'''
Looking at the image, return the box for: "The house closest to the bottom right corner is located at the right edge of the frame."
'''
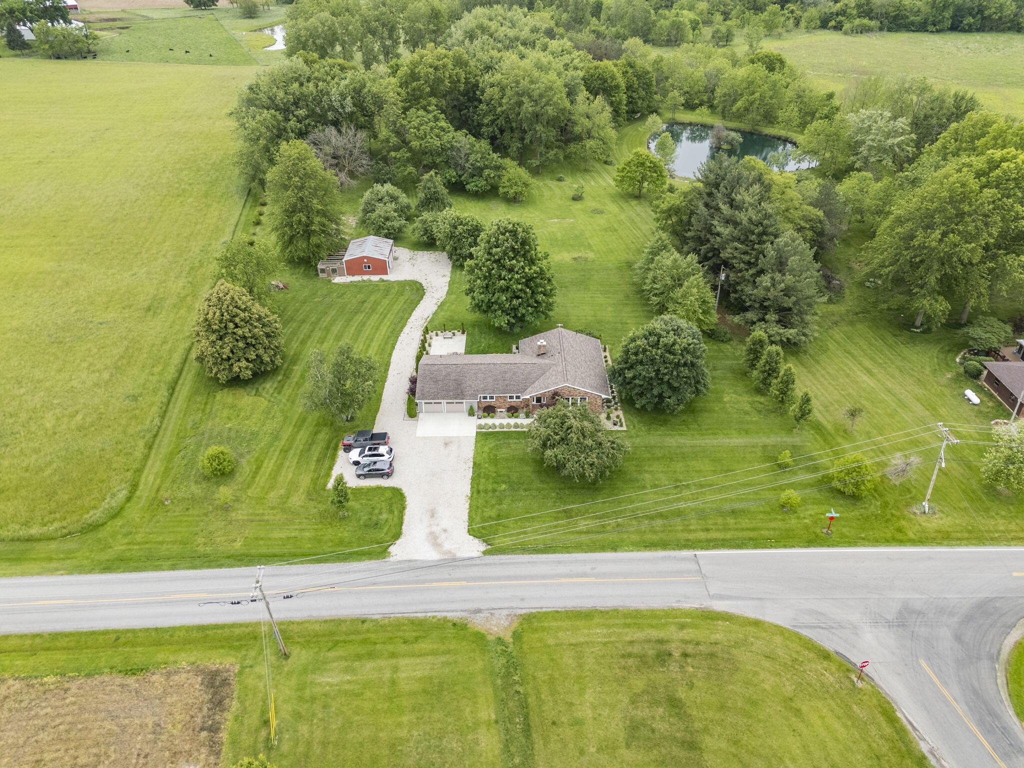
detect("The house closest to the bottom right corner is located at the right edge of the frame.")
[983,363,1024,418]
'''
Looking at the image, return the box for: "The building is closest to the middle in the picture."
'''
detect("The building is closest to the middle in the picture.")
[414,321,611,414]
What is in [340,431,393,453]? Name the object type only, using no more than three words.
truck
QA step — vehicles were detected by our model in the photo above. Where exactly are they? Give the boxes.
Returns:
[340,431,393,453]
[351,447,395,466]
[355,460,396,480]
